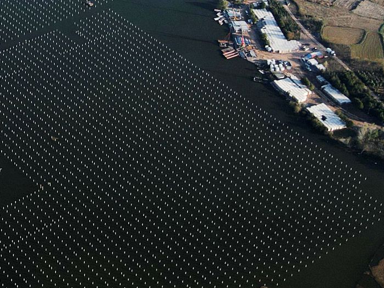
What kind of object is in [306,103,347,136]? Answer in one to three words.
shed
